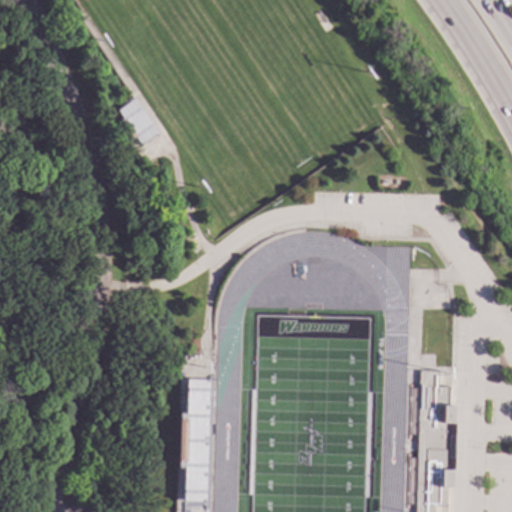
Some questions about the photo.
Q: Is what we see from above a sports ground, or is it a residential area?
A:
sports ground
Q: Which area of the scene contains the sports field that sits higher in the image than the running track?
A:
top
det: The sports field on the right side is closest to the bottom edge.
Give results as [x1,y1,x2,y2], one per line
[238,308,384,512]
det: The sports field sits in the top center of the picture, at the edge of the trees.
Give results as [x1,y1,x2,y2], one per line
[80,0,385,241]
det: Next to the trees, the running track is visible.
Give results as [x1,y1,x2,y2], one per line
[212,232,412,512]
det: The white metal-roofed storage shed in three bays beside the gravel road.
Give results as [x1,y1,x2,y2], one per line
[120,99,159,143]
